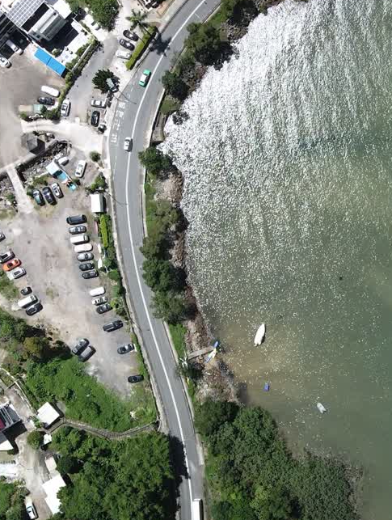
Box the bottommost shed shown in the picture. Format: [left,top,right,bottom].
[42,472,69,515]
